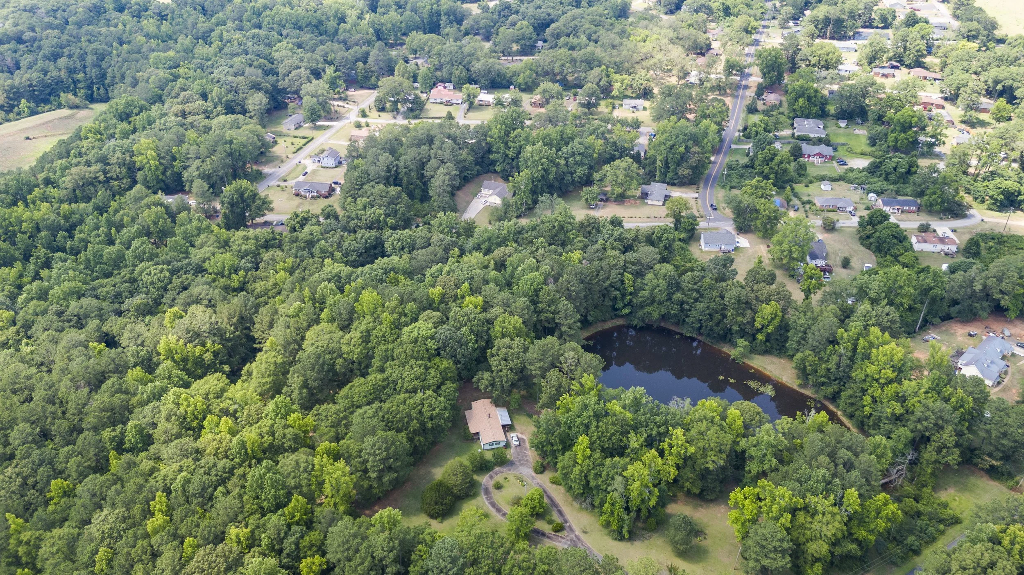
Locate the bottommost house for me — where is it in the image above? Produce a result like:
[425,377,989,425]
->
[463,398,512,450]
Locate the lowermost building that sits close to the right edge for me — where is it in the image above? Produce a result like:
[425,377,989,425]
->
[950,343,1024,389]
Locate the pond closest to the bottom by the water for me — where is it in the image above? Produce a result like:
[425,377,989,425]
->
[577,323,855,439]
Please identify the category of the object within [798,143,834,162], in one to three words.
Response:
house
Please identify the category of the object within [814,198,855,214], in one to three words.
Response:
house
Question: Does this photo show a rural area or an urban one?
rural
